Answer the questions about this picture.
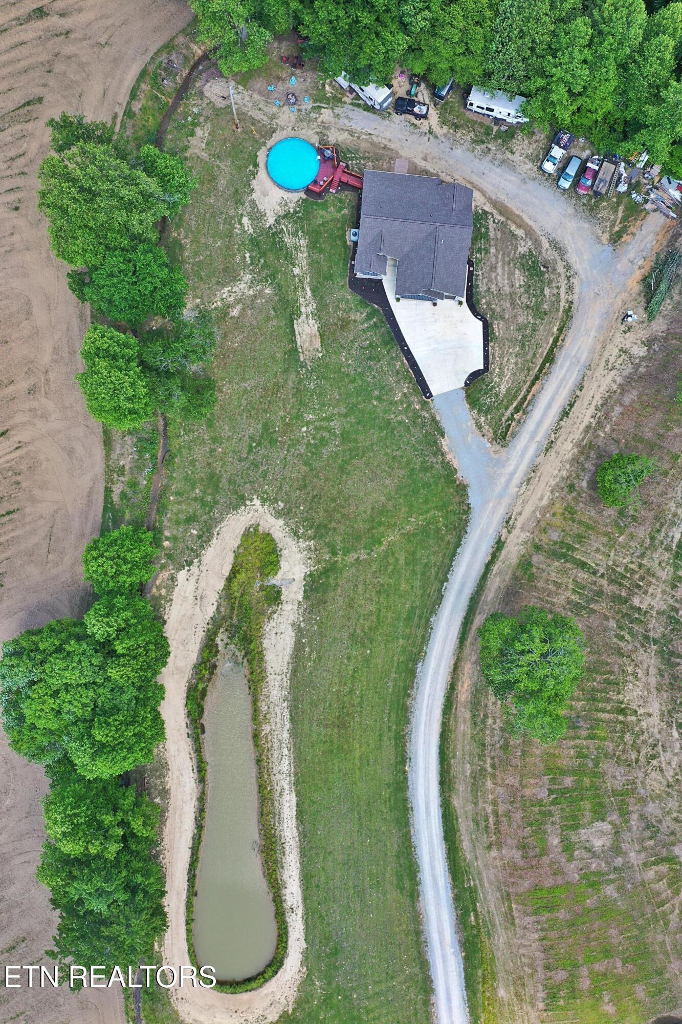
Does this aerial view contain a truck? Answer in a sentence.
Yes, the image includes a truck.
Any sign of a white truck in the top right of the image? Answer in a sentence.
Yes, you'll find a white truck in the top right of the image.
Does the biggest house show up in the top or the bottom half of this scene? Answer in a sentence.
The biggest house sits in the top half of the picture.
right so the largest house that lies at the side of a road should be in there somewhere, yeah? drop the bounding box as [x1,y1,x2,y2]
[353,169,474,305]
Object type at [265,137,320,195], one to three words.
swimming pool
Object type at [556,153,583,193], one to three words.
car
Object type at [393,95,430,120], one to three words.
truck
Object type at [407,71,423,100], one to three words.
work vehicle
